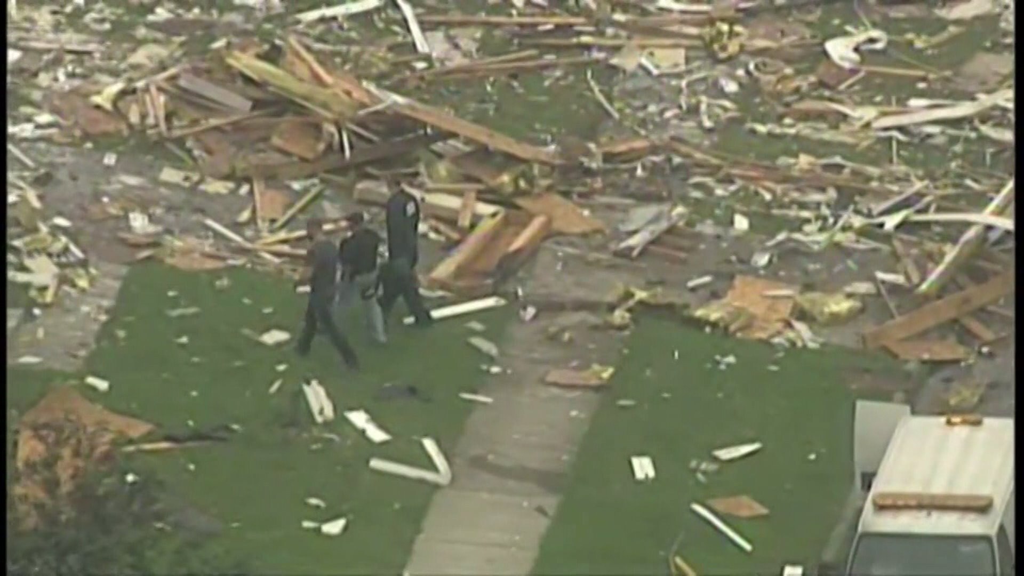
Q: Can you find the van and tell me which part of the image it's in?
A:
bottom right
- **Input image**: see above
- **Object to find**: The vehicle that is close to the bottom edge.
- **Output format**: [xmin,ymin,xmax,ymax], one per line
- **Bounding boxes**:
[835,400,1024,576]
